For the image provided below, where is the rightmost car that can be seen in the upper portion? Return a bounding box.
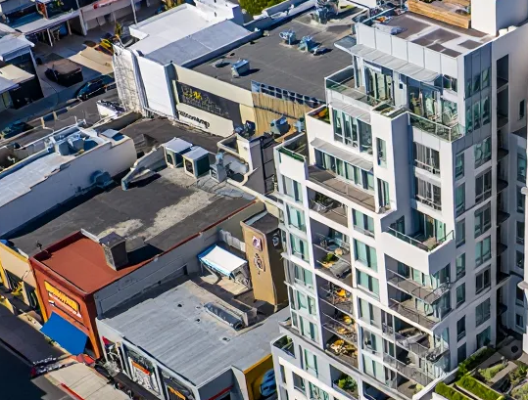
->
[80,79,116,96]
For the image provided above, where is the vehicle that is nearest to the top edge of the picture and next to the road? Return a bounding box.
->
[44,56,82,78]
